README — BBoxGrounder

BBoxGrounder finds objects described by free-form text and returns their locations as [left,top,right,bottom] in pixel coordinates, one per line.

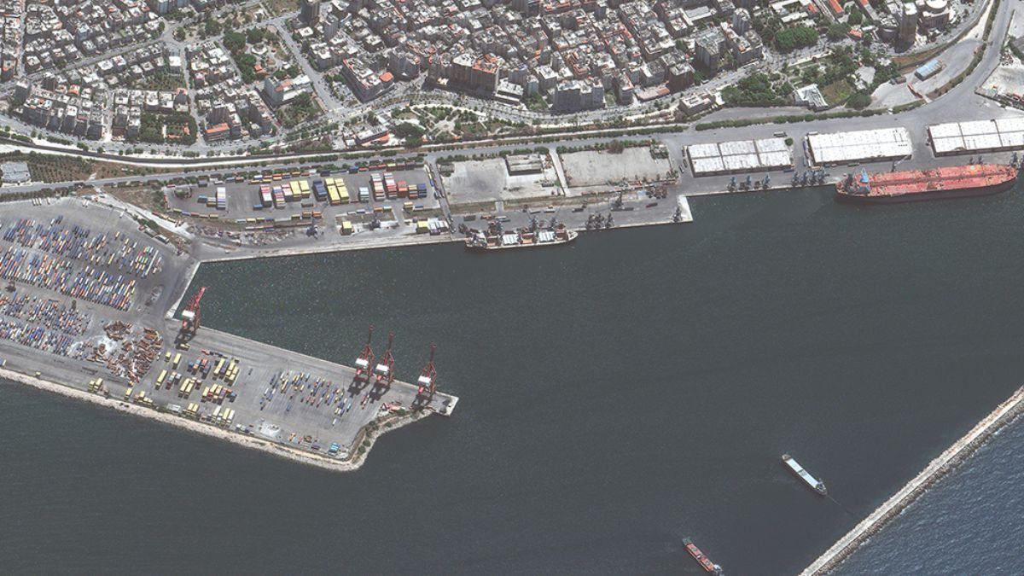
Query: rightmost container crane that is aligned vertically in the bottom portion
[415,342,436,402]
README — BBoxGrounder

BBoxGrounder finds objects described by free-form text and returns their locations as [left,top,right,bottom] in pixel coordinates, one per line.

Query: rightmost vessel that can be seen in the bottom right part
[781,454,829,499]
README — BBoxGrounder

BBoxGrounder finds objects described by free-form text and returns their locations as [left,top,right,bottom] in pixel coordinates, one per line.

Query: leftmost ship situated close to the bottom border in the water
[683,540,726,576]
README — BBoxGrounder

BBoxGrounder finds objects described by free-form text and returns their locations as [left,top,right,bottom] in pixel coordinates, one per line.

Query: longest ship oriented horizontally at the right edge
[834,163,1018,203]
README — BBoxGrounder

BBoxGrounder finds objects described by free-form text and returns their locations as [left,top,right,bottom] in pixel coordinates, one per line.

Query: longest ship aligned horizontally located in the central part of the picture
[464,219,578,250]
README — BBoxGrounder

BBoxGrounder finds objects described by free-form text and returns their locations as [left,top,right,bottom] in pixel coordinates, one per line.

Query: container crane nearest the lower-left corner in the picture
[179,284,204,336]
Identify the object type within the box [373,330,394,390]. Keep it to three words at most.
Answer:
container crane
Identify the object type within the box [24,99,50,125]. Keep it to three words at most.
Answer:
building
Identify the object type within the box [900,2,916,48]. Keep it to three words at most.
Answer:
building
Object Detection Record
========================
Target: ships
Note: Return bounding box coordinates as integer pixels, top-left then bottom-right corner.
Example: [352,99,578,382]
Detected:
[781,454,829,499]
[834,163,1018,203]
[683,540,726,576]
[464,219,578,250]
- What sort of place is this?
port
